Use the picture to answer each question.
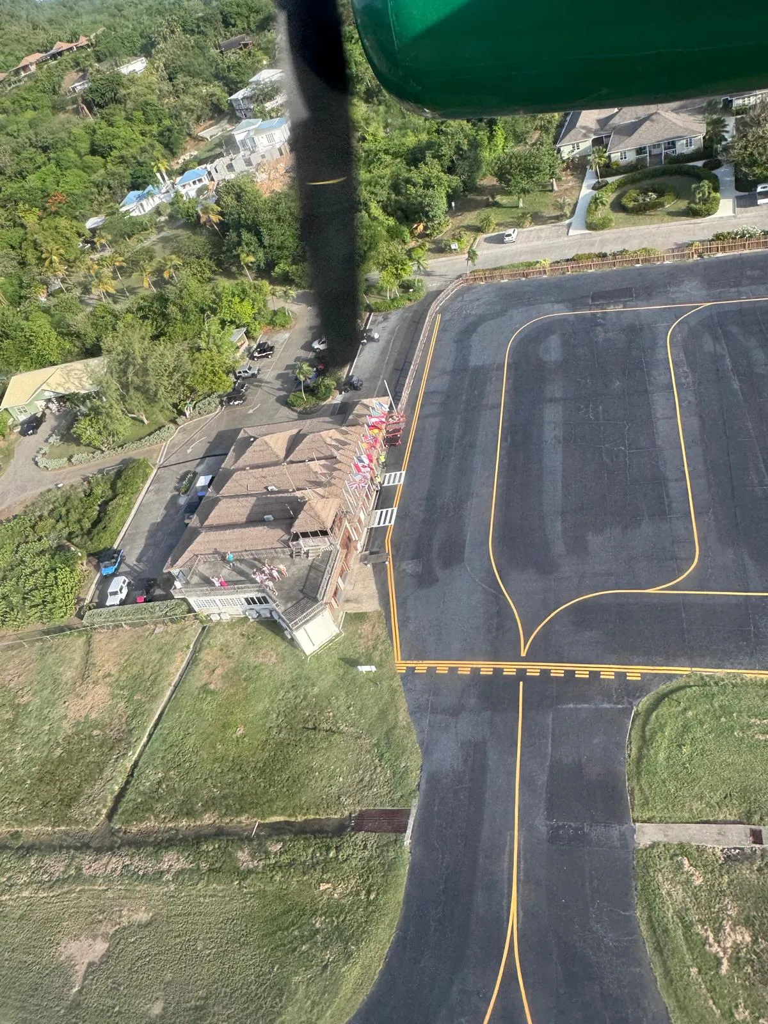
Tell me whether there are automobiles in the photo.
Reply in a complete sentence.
Yes, this view includes an automobile.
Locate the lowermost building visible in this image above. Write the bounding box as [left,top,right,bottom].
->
[166,391,391,658]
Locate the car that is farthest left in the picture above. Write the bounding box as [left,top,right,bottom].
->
[20,415,39,434]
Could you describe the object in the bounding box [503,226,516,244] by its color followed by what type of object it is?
white vehicle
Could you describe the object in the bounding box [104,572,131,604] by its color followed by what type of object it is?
white car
